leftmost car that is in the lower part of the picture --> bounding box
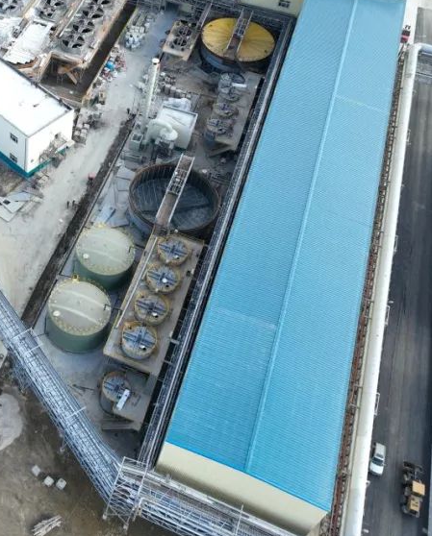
[370,441,387,475]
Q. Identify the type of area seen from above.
industrial area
